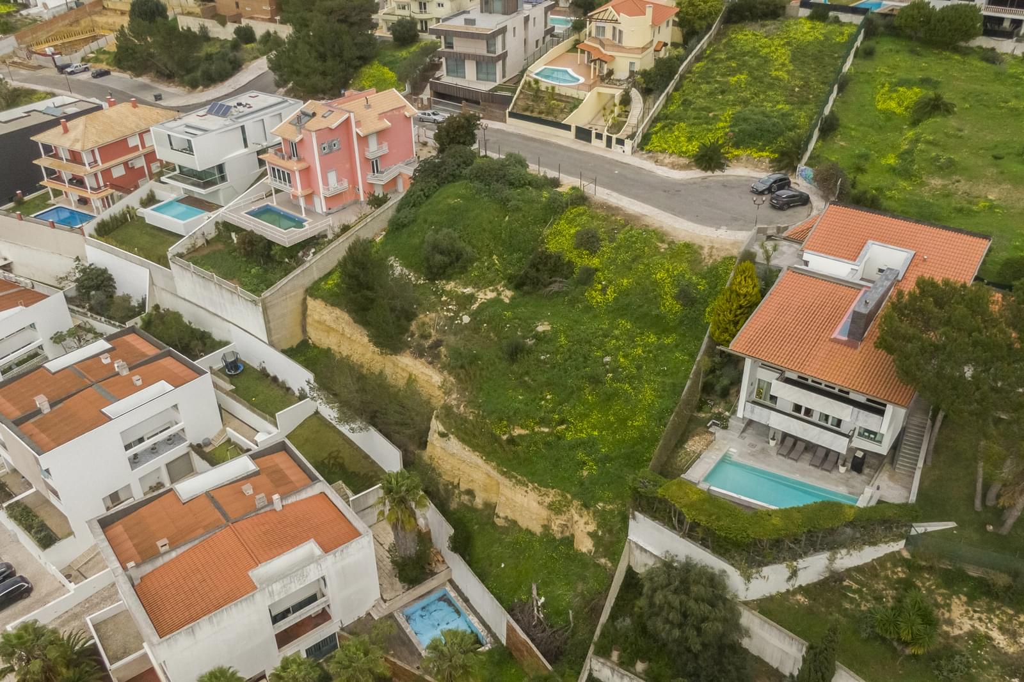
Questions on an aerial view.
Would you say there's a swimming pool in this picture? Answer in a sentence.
Yes, the image includes a swimming pool.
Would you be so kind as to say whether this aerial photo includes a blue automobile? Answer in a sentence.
No, the frame has no blue automobile in it.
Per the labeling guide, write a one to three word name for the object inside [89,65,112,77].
vehicle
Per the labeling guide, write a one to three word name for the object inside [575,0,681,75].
house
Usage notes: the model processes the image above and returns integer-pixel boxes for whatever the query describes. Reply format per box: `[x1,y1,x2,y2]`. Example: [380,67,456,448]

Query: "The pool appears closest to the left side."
[30,205,97,231]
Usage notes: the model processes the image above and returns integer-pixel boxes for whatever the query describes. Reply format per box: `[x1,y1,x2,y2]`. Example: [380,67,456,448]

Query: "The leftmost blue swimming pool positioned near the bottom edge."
[398,586,494,682]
